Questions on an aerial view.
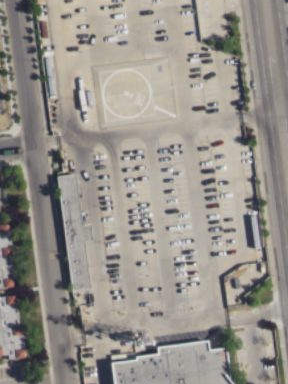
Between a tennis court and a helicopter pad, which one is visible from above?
helicopter pad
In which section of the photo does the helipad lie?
top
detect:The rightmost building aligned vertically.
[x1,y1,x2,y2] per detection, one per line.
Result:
[56,174,92,291]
